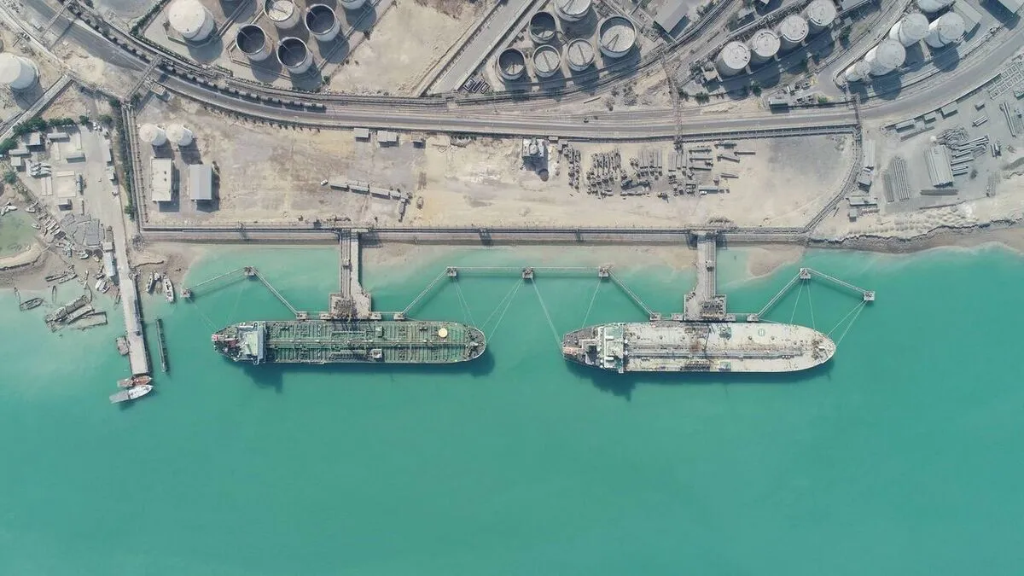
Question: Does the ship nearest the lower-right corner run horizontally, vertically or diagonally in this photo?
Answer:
horizontally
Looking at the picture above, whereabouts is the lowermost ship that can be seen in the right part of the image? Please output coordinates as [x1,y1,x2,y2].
[562,322,838,373]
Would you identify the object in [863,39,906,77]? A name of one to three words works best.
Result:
storage tank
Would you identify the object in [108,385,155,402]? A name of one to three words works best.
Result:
boat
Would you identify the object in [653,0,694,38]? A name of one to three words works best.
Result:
building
